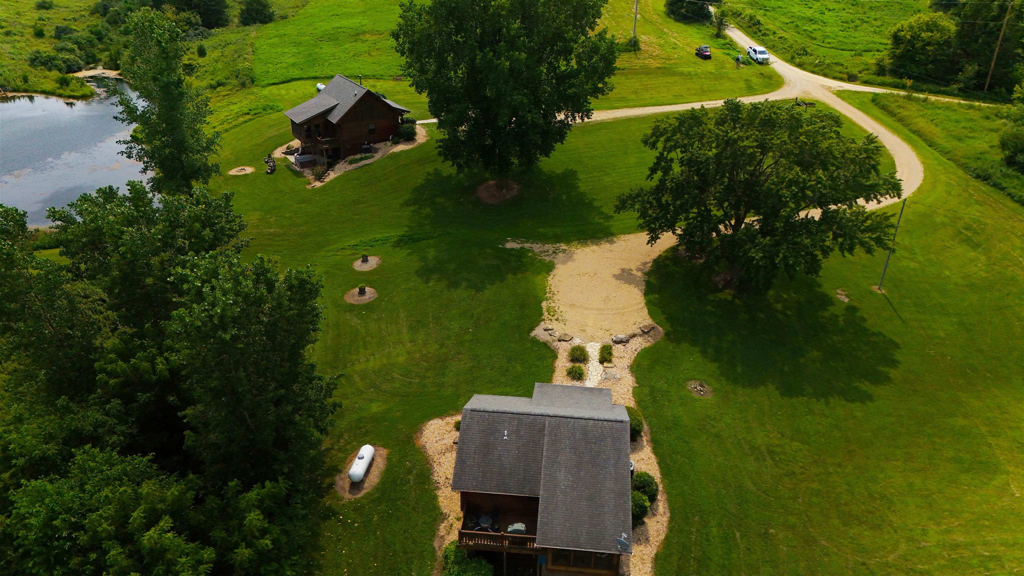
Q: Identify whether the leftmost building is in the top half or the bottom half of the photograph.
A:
top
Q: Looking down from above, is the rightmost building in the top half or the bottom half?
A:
bottom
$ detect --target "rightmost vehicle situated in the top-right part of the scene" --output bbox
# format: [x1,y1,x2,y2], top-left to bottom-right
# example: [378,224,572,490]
[745,42,774,64]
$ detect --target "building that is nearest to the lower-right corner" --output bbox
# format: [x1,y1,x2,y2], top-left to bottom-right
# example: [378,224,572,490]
[455,383,632,576]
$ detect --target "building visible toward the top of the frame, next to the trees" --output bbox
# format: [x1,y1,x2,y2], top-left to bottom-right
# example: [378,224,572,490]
[283,72,420,169]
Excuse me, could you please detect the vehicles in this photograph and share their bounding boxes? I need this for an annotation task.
[695,42,711,60]
[745,42,774,64]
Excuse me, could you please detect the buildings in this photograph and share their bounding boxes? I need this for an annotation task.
[283,72,420,169]
[455,383,632,576]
